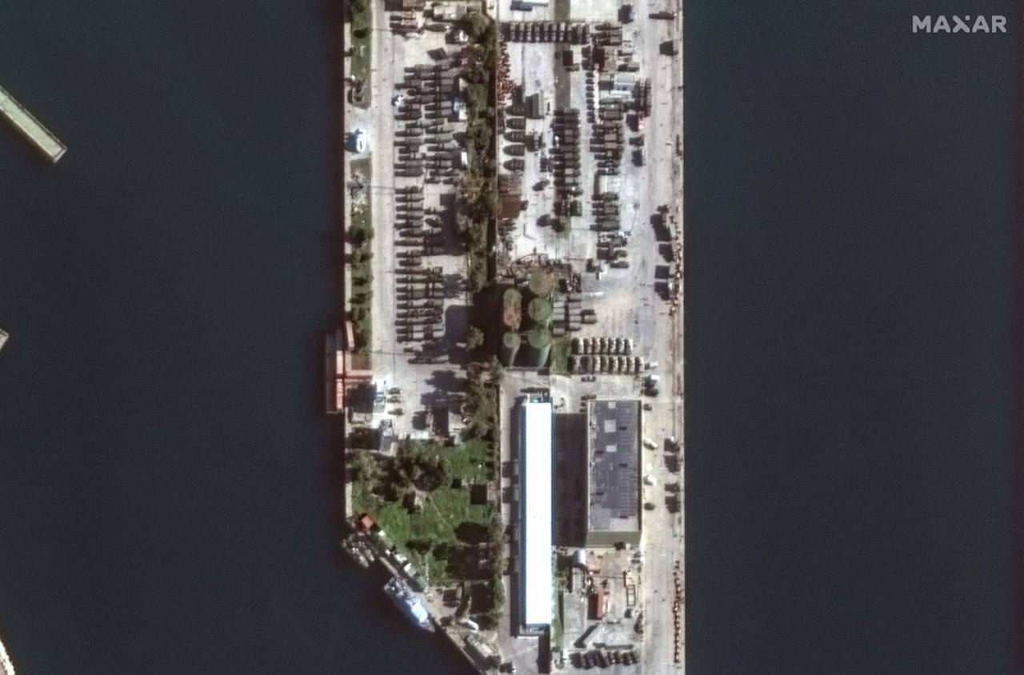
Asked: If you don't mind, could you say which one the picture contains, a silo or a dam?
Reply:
silo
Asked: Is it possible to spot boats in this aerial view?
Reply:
Yes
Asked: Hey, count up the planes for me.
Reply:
none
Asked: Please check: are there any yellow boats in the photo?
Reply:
No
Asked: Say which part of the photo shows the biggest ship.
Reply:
bottom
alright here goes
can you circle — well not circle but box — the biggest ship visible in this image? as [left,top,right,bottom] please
[380,583,436,636]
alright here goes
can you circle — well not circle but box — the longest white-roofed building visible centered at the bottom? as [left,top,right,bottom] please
[518,393,554,635]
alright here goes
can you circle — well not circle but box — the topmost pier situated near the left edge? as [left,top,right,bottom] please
[0,86,67,166]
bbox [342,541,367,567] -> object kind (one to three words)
boat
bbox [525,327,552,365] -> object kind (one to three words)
silo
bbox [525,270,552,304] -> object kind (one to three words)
silo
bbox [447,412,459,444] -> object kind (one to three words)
shed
